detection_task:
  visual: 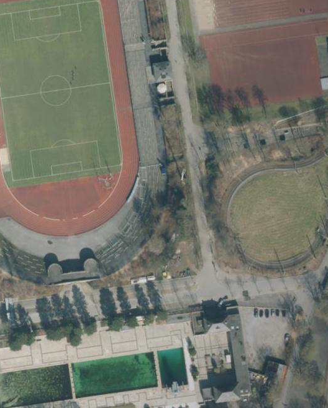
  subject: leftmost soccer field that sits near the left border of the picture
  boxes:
[0,0,124,189]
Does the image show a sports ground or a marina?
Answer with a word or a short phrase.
sports ground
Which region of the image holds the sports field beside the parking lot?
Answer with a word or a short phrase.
right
